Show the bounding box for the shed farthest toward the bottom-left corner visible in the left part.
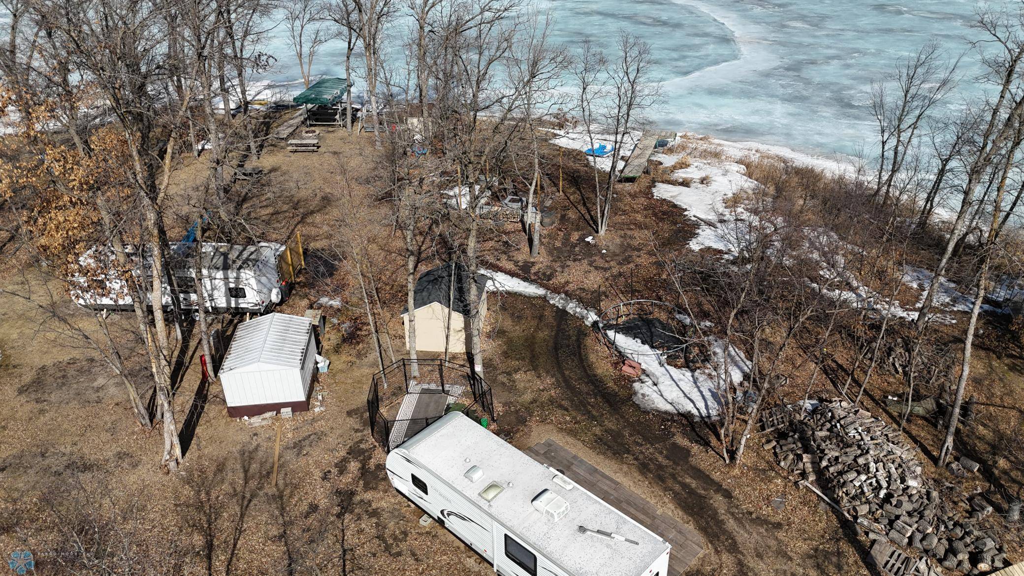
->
[214,311,320,417]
